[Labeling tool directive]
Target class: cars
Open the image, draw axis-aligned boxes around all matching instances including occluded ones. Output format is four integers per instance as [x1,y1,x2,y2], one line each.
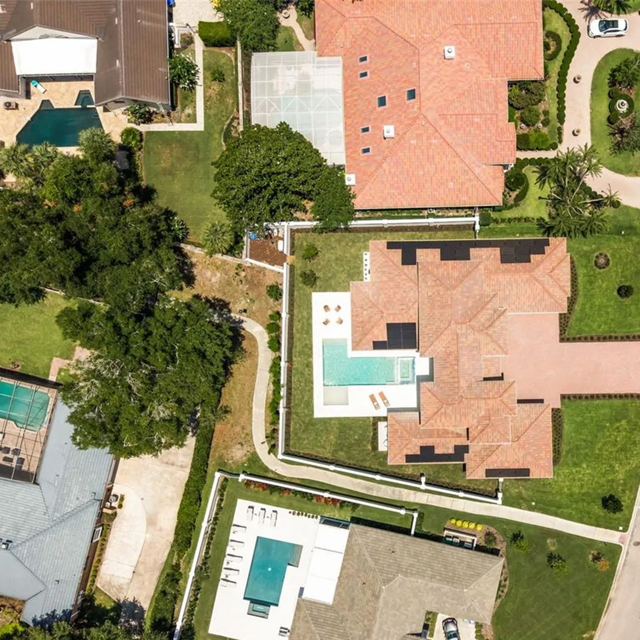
[588,16,628,38]
[441,617,461,640]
